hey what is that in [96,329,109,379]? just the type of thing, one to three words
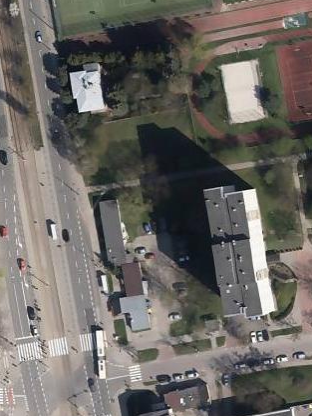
vehicle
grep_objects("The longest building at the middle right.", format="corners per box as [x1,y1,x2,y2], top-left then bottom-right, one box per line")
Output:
[204,186,275,318]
